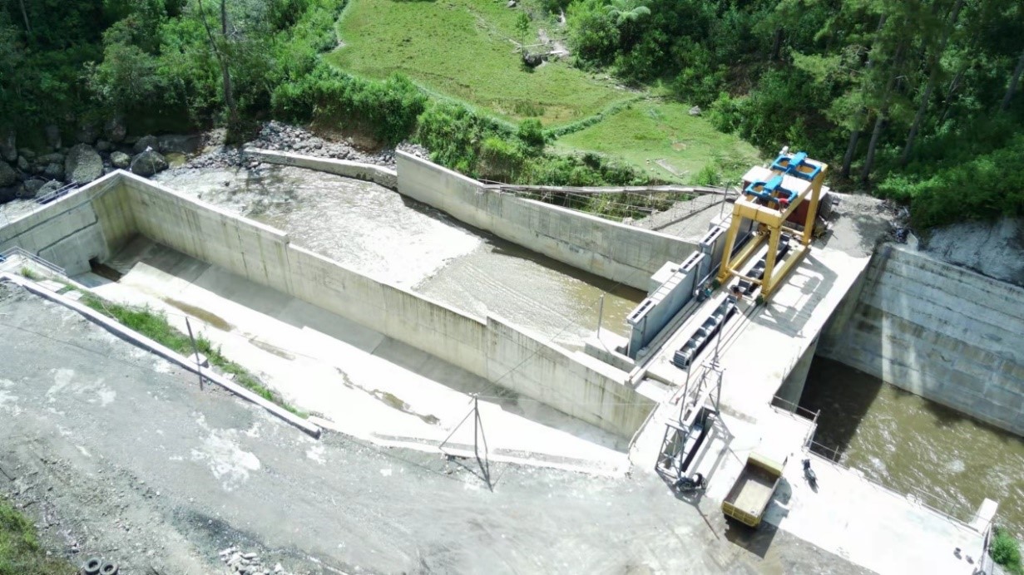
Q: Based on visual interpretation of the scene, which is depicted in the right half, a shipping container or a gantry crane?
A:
gantry crane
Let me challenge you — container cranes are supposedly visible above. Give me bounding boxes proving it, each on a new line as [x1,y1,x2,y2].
[715,151,826,298]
